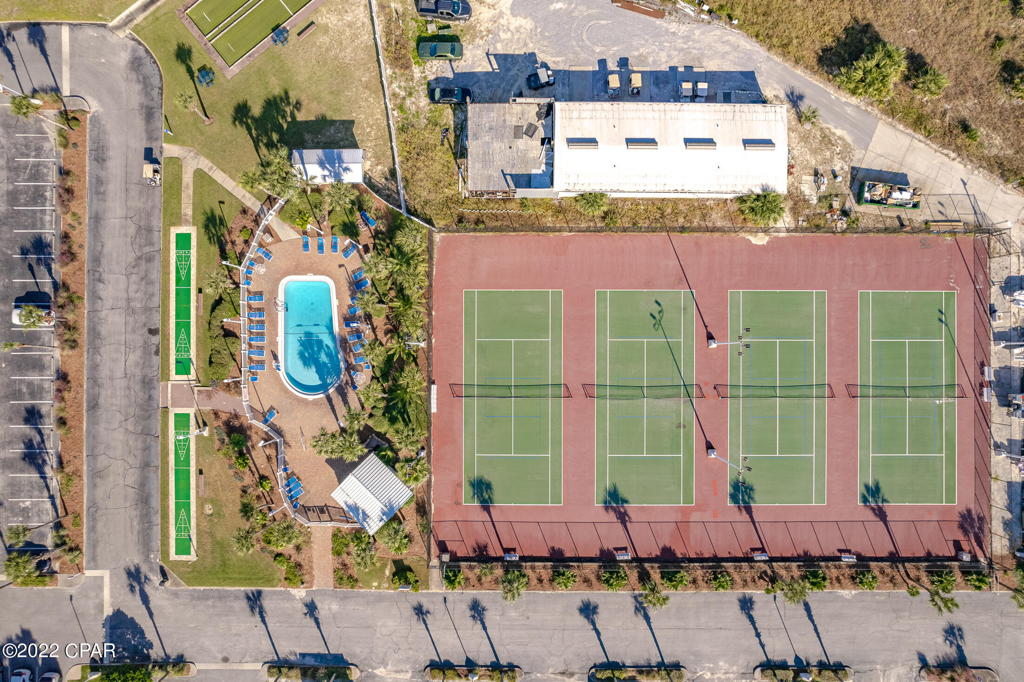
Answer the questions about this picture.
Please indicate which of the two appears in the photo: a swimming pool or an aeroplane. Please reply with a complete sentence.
The one in the frame is a swimming pool.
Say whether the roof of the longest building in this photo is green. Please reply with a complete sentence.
No, from above the roof of the longest building looks white.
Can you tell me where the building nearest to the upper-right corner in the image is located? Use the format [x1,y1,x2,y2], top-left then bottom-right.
[553,101,791,197]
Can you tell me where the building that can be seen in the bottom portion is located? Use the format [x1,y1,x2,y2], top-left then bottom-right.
[331,452,413,535]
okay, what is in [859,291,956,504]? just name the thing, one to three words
tennis court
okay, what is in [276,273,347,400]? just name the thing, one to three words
swimming pool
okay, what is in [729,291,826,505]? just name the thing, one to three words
tennis court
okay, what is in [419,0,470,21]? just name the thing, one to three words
truck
